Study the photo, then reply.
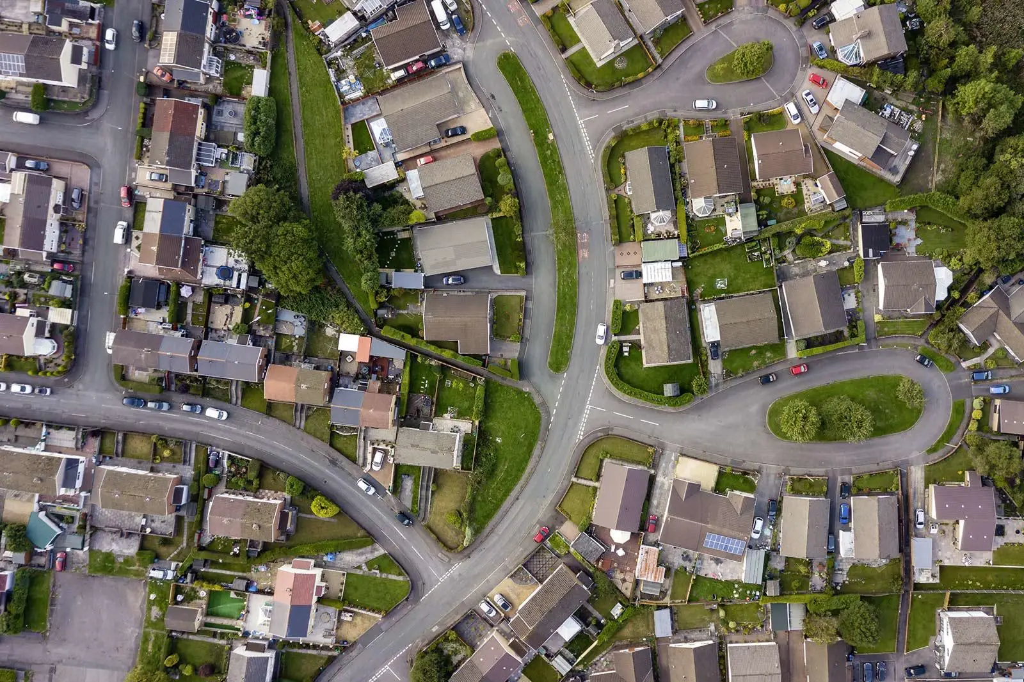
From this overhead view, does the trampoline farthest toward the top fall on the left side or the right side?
left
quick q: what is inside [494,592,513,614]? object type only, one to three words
car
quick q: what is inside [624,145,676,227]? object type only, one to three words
house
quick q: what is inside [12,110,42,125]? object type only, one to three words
vehicle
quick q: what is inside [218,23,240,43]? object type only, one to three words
trampoline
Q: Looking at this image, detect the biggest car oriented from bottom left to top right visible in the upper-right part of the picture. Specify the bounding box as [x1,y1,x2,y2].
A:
[810,12,833,31]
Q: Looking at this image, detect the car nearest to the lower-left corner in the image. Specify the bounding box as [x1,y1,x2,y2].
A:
[54,550,67,572]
